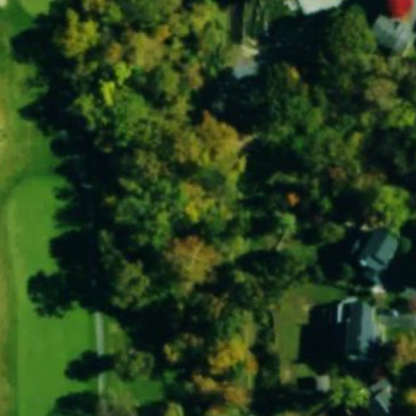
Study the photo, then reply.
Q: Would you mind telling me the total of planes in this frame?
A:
zero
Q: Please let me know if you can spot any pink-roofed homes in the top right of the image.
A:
No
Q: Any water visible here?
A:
No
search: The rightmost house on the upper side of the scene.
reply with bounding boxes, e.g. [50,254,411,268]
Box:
[373,12,416,55]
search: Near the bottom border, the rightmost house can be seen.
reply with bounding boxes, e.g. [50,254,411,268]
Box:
[362,384,403,416]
